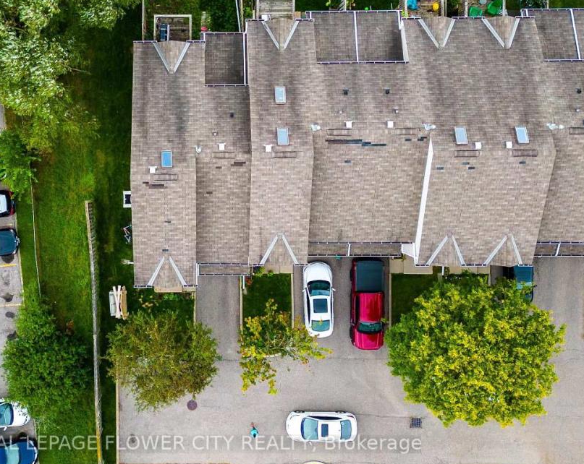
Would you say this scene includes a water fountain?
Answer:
No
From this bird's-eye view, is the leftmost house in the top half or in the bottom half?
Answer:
top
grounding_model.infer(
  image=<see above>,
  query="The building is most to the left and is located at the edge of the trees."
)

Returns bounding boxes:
[123,29,254,292]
